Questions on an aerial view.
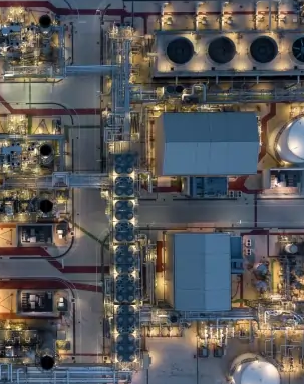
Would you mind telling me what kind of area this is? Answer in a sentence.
What you see here is an industrial area.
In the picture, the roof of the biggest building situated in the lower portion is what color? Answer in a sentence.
The roof of the biggest building situated in the lower portion is blue.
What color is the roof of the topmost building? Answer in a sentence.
From above, the roof of the topmost building looks blue.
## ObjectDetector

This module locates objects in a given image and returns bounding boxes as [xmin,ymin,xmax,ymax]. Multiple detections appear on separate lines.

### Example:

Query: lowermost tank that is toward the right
[226,351,281,384]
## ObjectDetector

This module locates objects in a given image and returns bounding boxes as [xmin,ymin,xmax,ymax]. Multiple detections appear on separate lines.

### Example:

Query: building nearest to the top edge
[158,113,260,176]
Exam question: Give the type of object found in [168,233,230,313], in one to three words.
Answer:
building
